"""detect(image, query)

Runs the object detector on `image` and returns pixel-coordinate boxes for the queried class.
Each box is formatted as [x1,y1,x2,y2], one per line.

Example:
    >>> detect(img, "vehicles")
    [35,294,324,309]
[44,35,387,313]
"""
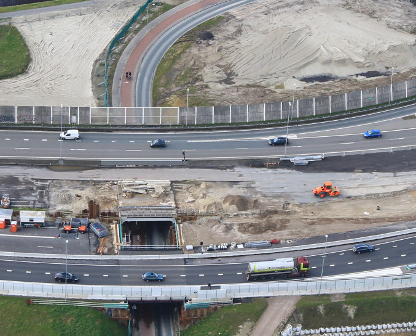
[362,128,382,138]
[268,136,289,145]
[148,138,166,147]
[247,257,311,282]
[55,272,78,282]
[312,183,340,199]
[351,242,374,254]
[59,128,80,139]
[141,272,164,282]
